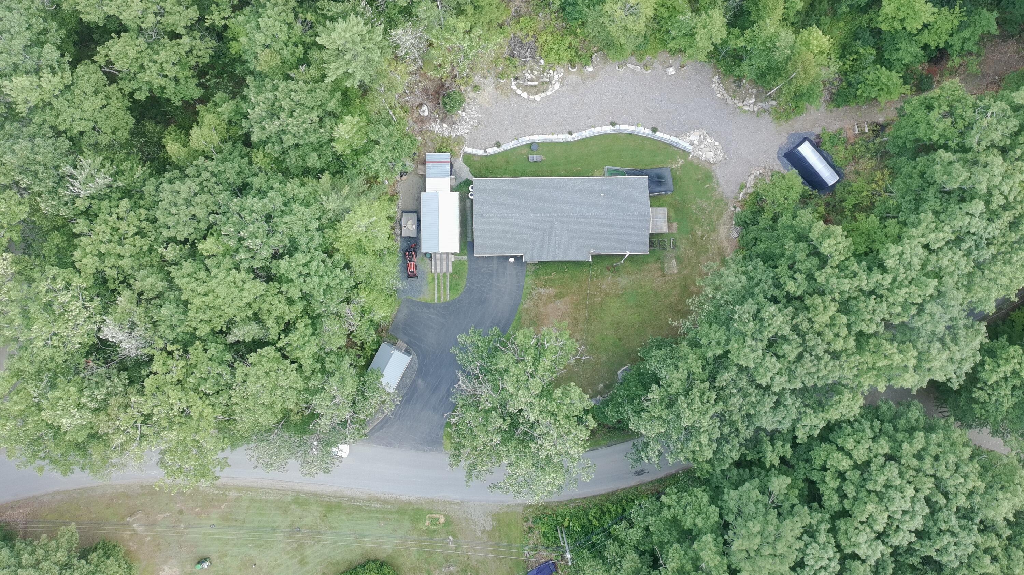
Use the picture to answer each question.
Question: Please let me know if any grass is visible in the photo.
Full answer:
Yes, grass can be seen from above here.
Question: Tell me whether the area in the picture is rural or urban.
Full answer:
The area shown here is rural.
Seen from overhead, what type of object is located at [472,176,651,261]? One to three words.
house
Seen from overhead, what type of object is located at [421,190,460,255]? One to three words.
building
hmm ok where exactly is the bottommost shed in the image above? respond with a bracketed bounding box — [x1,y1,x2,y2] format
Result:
[366,343,413,394]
